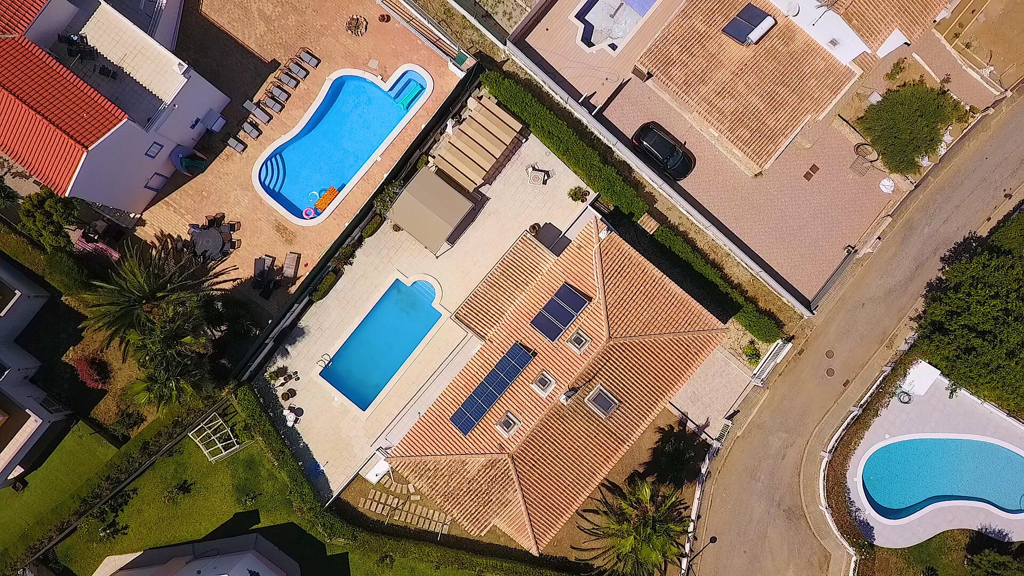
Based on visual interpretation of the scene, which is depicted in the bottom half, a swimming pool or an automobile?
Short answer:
swimming pool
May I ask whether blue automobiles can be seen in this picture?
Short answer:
No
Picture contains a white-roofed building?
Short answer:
Yes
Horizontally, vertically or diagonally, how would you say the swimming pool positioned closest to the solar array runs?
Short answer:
diagonally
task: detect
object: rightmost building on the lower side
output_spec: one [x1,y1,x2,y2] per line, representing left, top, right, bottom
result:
[890,359,941,396]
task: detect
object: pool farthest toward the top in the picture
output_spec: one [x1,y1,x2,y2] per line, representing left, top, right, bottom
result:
[569,0,665,59]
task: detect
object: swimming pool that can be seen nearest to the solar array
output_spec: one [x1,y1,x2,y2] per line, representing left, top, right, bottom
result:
[309,269,450,421]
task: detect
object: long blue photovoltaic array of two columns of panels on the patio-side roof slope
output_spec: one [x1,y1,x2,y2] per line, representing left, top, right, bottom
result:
[450,341,534,435]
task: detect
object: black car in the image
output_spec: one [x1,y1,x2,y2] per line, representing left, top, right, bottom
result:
[630,119,695,182]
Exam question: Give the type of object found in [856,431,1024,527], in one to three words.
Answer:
swimming pool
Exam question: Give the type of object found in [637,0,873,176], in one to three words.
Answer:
house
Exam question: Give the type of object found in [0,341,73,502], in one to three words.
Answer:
house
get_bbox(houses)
[386,216,729,555]
[0,341,73,502]
[117,555,273,576]
[637,0,873,176]
[0,0,230,214]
